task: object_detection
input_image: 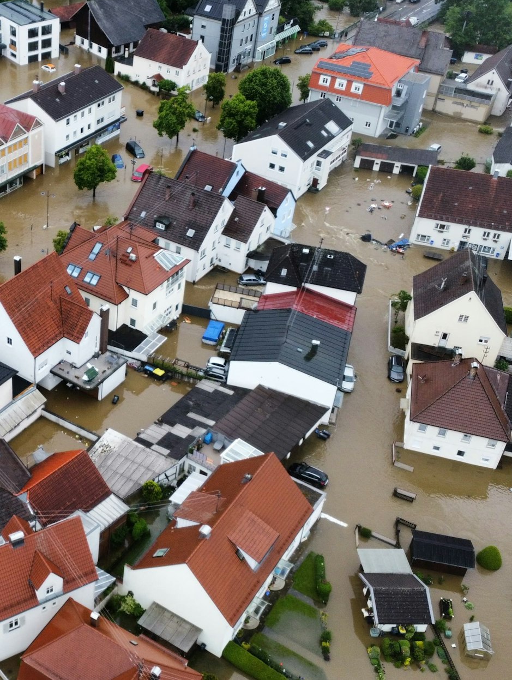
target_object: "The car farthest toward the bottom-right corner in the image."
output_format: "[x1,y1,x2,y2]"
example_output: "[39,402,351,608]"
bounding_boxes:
[287,462,333,493]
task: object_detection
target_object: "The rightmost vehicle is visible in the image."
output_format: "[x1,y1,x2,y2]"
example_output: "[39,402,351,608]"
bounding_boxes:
[454,71,471,84]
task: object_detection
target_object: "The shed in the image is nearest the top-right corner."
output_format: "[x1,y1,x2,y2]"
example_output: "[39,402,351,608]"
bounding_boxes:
[462,36,498,65]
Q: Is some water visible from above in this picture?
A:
Yes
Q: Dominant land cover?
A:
buildings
